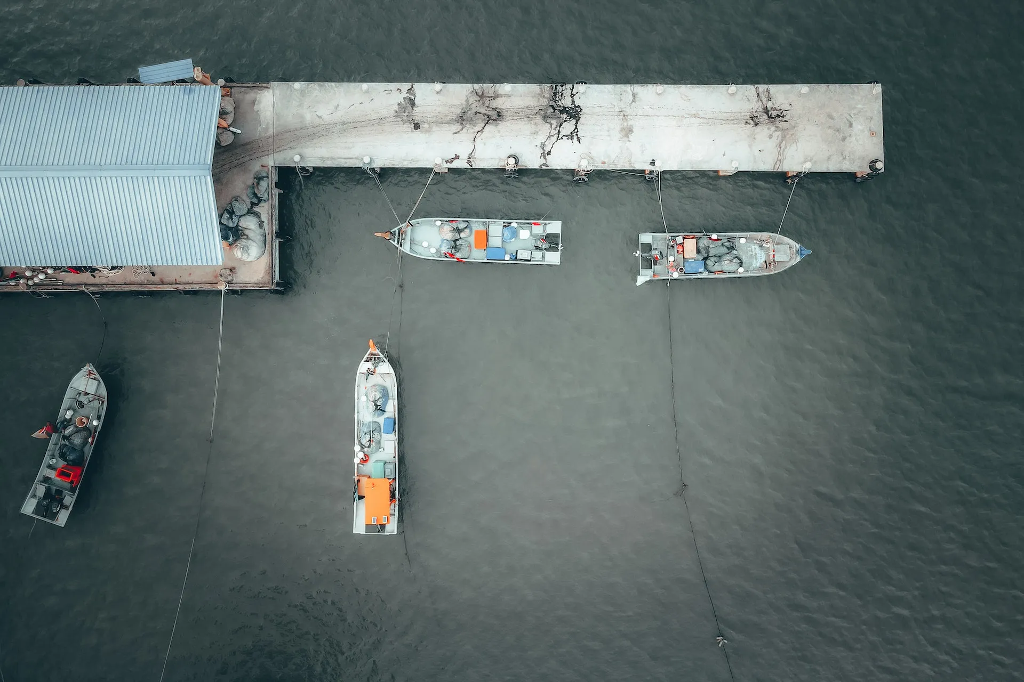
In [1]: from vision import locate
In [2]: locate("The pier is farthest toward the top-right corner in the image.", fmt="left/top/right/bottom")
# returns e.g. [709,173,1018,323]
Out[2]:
[274,82,884,179]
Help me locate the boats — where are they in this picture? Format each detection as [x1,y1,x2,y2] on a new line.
[634,231,812,286]
[374,211,563,265]
[20,364,113,527]
[353,339,399,535]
